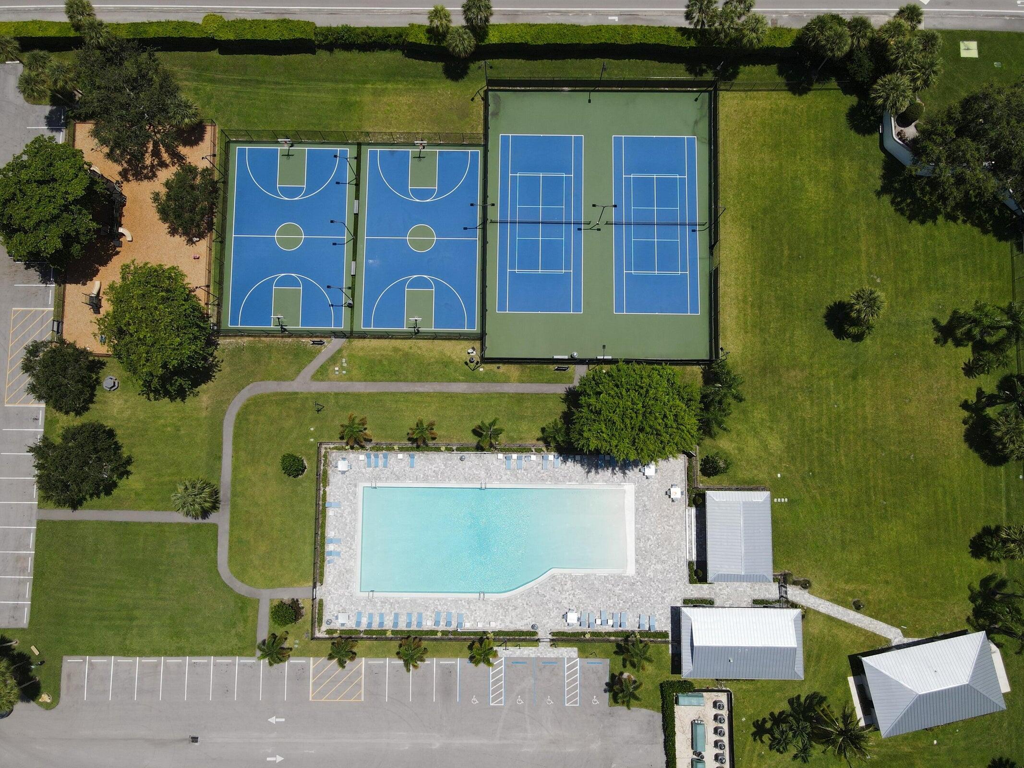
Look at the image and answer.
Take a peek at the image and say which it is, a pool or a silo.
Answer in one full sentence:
There is a pool in the scene.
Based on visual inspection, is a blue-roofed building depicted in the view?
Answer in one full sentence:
No, the scene contains no blue-roofed building.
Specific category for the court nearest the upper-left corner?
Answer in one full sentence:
It turns out the court nearest the upper-left corner is a basketball court.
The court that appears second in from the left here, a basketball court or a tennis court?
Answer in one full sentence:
I'd say the court that appears second in from the left is a basketball court.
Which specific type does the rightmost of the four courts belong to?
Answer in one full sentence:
From above, the rightmost of the four courts can be identified as a tennis court.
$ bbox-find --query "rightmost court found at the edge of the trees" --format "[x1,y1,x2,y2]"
[598,90,713,361]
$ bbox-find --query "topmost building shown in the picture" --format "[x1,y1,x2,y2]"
[703,491,774,583]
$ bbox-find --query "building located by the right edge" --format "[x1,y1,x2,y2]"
[853,627,1007,738]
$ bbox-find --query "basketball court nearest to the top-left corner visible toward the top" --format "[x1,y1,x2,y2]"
[220,141,357,336]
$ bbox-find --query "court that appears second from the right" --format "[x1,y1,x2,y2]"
[486,90,599,361]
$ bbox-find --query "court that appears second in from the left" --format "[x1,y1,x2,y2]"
[353,143,484,338]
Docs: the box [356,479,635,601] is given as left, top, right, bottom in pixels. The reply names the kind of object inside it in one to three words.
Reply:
swimming pool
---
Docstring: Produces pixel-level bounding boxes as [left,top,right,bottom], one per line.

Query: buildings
[853,627,1007,738]
[677,605,804,680]
[703,491,774,583]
